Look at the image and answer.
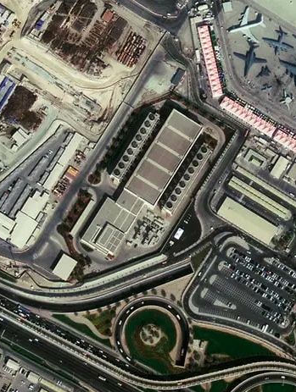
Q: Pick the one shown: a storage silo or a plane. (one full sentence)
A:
There is a plane in the scene.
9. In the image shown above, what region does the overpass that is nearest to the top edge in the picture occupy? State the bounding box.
[0,259,164,295]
